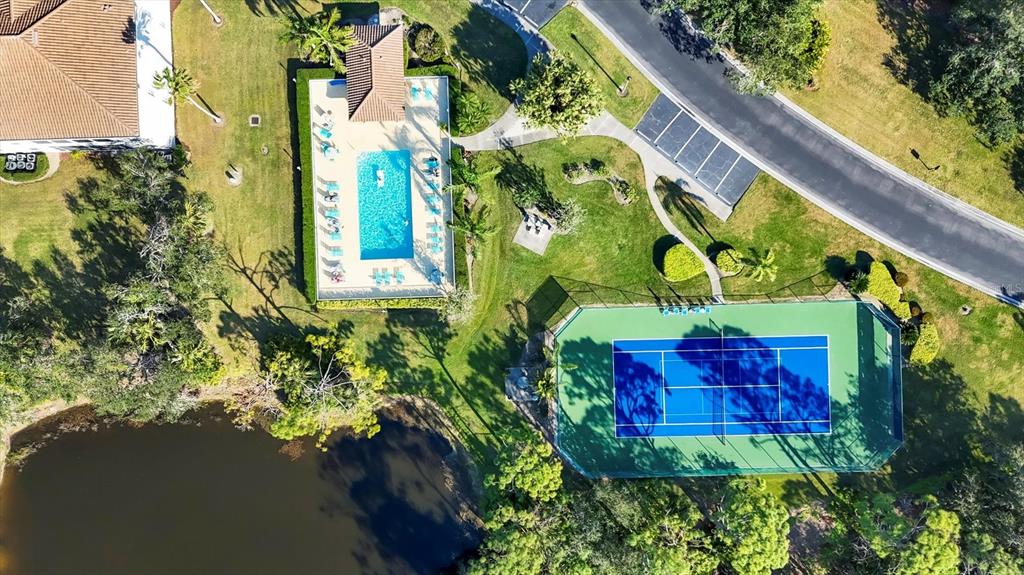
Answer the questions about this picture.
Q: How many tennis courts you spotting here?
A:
one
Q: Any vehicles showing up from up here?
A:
No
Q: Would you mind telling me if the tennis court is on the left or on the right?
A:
right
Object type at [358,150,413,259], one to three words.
swimming pool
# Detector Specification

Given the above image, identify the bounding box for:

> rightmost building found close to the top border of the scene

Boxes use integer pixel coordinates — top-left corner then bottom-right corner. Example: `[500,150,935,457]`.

[346,23,406,125]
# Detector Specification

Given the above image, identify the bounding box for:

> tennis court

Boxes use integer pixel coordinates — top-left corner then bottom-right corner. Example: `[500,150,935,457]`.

[558,303,888,469]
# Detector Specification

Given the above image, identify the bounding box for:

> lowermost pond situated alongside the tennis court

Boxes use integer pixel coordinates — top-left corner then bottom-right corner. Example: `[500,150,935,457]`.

[0,397,489,575]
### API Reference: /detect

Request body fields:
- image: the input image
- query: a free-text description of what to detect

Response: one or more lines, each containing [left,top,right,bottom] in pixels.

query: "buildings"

[346,23,406,125]
[0,0,173,151]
